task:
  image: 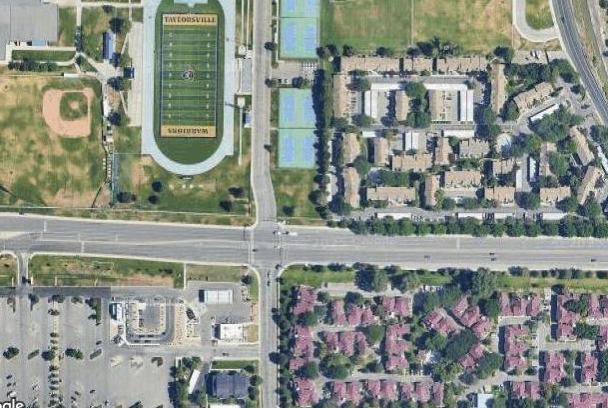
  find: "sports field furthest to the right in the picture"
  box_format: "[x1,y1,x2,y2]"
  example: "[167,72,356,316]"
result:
[154,0,224,164]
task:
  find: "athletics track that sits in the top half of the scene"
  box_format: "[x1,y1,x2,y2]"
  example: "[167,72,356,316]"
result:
[142,0,235,175]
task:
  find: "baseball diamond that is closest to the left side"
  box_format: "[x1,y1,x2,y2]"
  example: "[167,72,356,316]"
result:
[43,88,94,138]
